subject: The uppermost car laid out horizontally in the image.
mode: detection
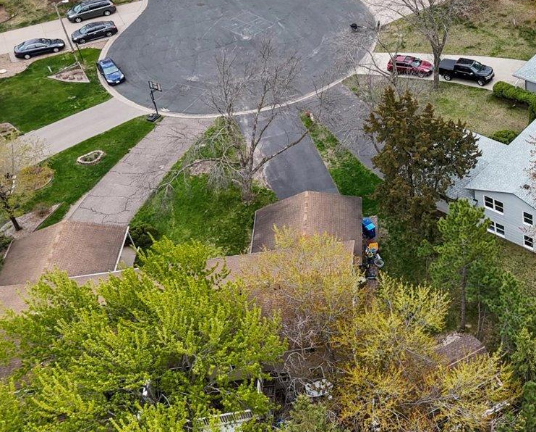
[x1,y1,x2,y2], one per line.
[64,0,114,20]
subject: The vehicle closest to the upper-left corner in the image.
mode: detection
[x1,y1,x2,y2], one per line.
[12,36,64,58]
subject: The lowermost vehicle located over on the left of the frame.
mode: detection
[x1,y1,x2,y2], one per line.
[96,55,123,81]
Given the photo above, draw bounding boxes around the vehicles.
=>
[96,55,123,81]
[12,36,64,58]
[68,18,116,41]
[440,55,498,85]
[64,0,114,20]
[387,51,432,76]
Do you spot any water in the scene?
No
